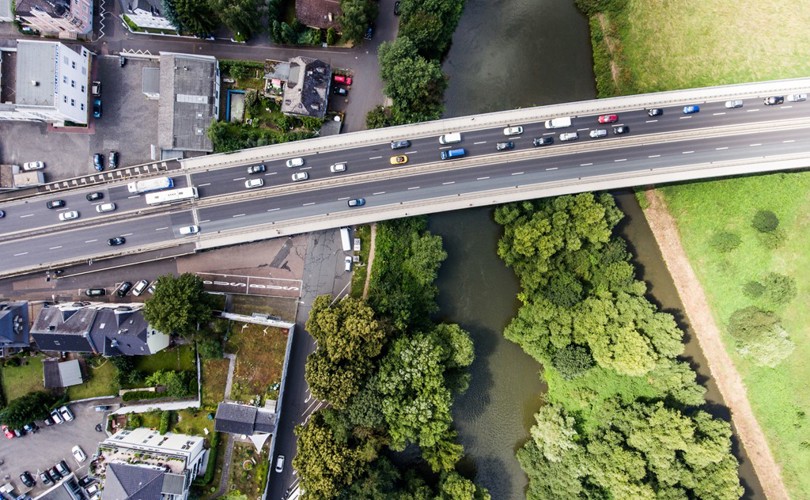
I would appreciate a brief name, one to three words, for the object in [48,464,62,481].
vehicle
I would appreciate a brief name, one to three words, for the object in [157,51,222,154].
building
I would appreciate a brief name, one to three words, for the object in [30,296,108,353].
house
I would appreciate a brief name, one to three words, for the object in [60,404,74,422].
car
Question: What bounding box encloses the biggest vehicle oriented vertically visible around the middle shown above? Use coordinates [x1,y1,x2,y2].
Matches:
[339,226,352,252]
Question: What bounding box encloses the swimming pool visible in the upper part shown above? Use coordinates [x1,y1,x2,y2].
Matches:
[225,89,246,122]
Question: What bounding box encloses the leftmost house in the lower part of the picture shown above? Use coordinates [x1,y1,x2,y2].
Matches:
[0,301,39,347]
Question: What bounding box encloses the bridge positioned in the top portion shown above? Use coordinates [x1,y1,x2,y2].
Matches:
[0,76,810,279]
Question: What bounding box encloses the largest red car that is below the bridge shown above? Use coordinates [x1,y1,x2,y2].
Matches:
[2,423,16,440]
